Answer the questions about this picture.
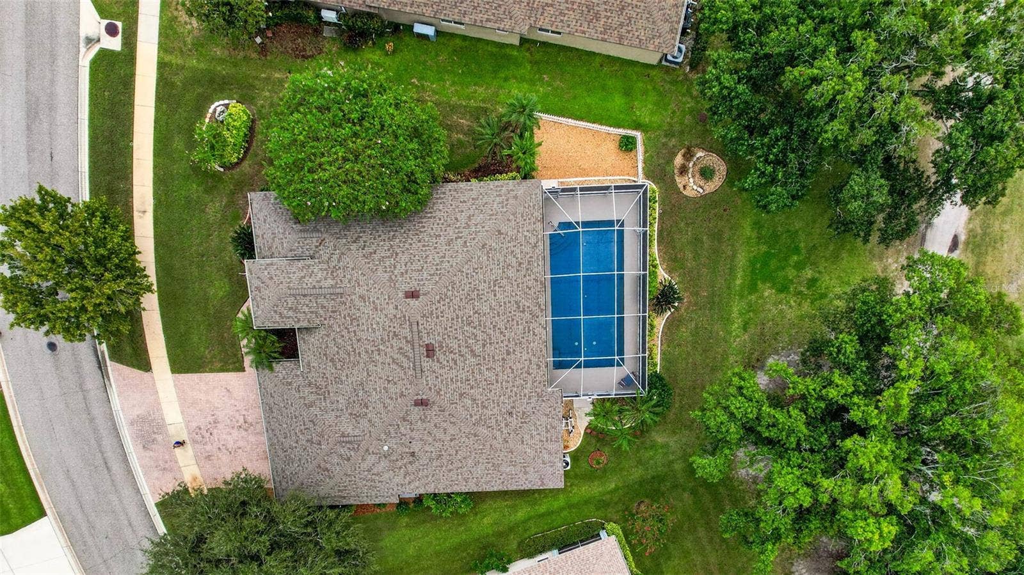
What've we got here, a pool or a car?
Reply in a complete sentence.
Visible in the photo is a pool.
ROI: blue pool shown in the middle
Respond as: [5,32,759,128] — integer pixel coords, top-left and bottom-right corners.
[547,215,629,373]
